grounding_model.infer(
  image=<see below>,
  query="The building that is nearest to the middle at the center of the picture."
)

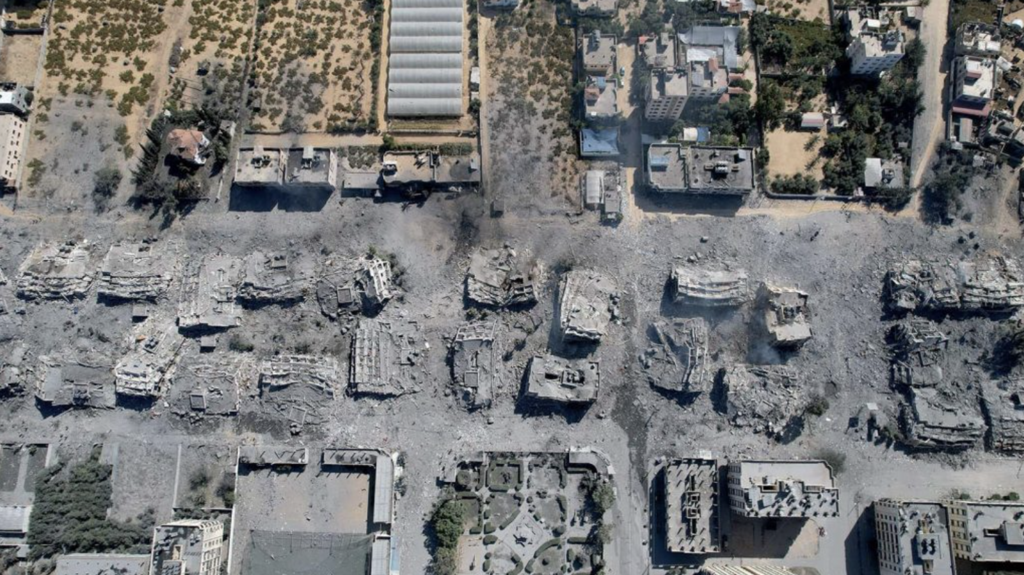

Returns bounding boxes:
[461,243,548,304]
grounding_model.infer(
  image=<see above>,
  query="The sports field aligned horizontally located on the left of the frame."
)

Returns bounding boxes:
[246,531,374,575]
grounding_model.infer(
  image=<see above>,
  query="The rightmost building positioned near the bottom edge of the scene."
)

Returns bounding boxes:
[937,499,1024,562]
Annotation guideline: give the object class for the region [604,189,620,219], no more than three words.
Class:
shed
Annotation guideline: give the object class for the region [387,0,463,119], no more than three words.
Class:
greenhouse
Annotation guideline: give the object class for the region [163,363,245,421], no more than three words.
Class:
building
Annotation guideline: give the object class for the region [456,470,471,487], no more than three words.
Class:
gazebo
